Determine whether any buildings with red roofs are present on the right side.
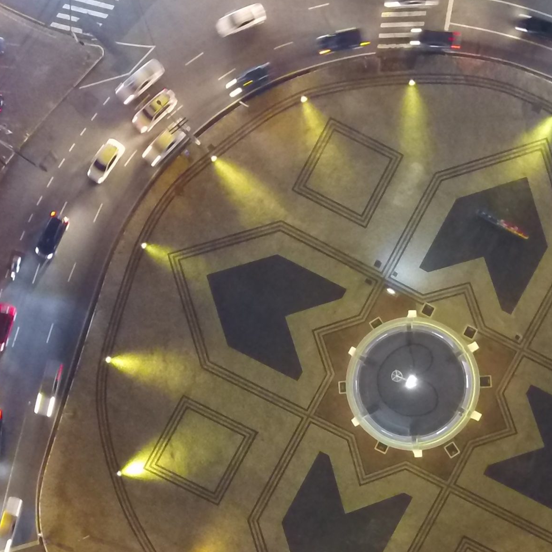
No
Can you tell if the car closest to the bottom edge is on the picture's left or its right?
left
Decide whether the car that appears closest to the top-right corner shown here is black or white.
black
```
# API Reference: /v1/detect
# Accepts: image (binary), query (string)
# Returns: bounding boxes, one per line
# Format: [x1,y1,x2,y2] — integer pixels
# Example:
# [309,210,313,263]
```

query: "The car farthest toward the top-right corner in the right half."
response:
[519,15,552,45]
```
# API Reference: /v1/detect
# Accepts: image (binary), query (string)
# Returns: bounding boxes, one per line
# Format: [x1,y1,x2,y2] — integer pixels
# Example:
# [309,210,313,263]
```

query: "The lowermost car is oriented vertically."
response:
[0,499,24,545]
